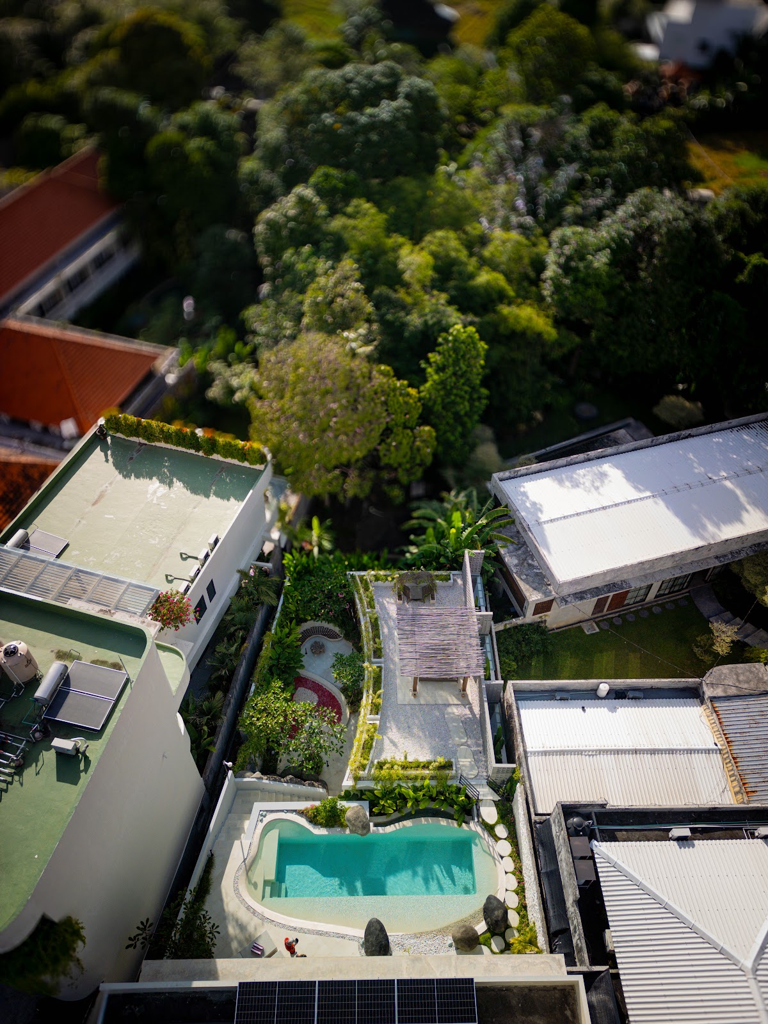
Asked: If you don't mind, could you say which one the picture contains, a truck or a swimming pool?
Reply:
swimming pool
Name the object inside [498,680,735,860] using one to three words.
house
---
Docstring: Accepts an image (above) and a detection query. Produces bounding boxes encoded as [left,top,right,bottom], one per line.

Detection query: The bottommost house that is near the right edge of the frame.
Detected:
[587,841,768,1024]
